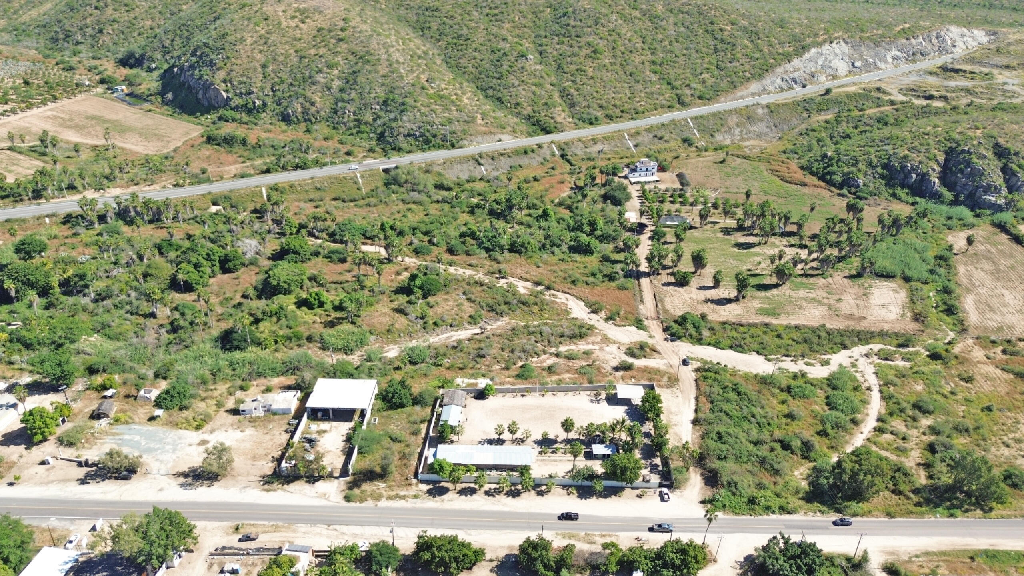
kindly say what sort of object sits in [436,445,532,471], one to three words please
shed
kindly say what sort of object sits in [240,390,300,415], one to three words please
house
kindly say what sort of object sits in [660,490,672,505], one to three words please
vehicle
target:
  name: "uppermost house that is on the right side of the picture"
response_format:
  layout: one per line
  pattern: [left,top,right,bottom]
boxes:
[627,158,658,182]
